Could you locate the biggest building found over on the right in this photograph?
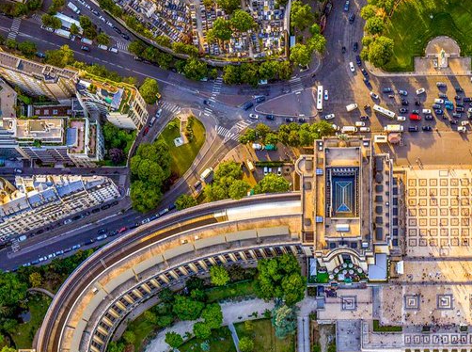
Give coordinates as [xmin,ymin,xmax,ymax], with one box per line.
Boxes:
[296,136,398,276]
